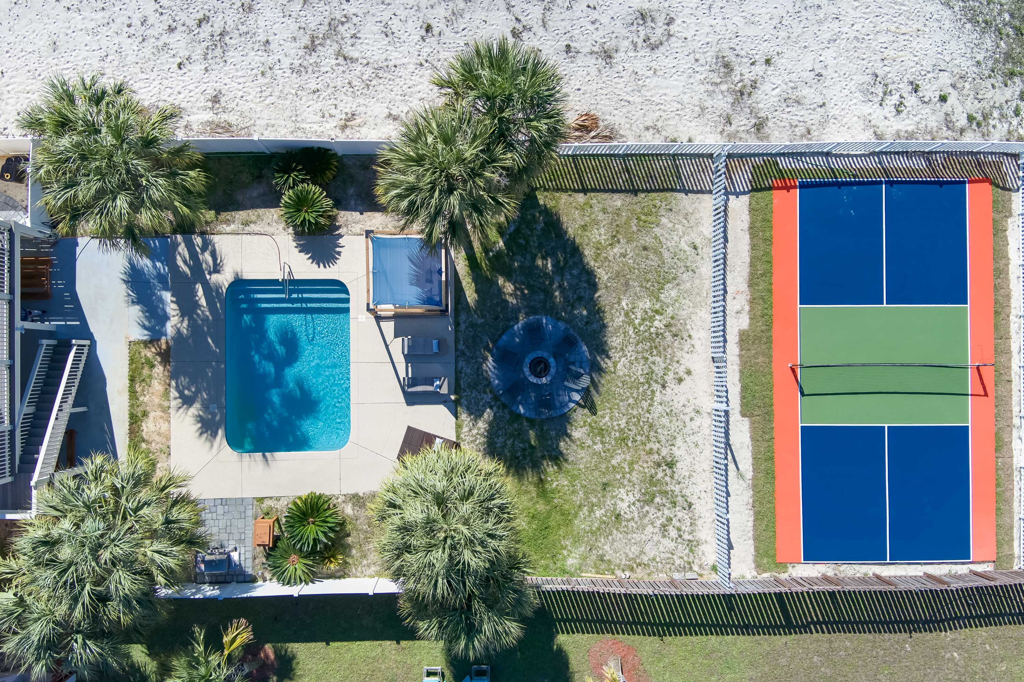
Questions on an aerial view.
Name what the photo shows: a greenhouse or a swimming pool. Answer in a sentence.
Visible in the photo is a swimming pool.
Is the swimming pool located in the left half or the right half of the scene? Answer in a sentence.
The swimming pool appears in the left half of the scene.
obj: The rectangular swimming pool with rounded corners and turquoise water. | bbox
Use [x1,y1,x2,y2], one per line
[226,279,350,453]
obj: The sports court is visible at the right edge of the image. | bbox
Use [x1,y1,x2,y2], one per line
[772,177,998,564]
